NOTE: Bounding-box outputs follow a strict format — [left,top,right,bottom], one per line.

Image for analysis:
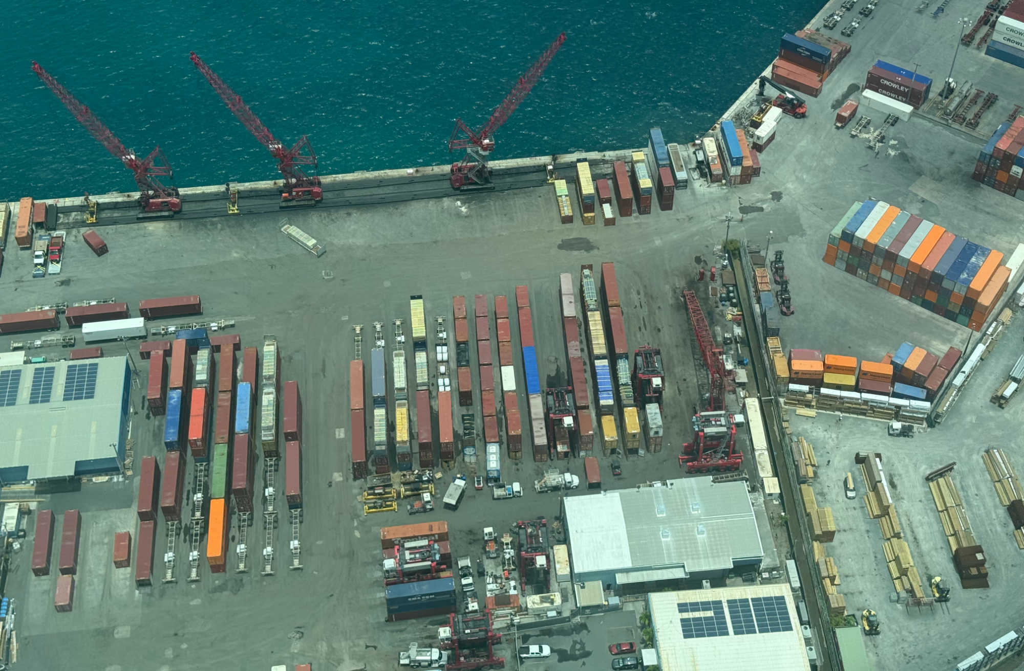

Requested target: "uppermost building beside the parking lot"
[563,475,763,591]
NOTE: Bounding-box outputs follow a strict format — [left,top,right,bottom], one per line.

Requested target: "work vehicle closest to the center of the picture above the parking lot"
[543,383,576,452]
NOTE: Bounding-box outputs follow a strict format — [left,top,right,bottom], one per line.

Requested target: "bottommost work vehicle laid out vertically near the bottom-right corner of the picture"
[863,608,880,649]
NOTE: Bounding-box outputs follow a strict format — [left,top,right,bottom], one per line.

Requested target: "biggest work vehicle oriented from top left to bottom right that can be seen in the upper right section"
[762,78,809,116]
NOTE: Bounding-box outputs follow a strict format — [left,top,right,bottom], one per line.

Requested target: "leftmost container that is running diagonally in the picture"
[83,229,109,257]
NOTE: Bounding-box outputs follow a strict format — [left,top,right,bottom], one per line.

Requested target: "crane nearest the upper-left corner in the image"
[30,59,177,217]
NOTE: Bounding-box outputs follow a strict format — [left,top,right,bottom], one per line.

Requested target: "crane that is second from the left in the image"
[189,49,319,206]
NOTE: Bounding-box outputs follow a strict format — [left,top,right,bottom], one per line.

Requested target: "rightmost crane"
[452,30,568,191]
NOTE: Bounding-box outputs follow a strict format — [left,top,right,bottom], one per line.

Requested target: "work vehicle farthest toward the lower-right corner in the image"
[928,577,951,617]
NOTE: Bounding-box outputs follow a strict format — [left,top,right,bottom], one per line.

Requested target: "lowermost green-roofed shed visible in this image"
[833,626,870,671]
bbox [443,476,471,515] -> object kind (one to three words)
truck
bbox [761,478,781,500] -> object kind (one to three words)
building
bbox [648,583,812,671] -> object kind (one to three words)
shed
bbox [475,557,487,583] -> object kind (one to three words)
vehicle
